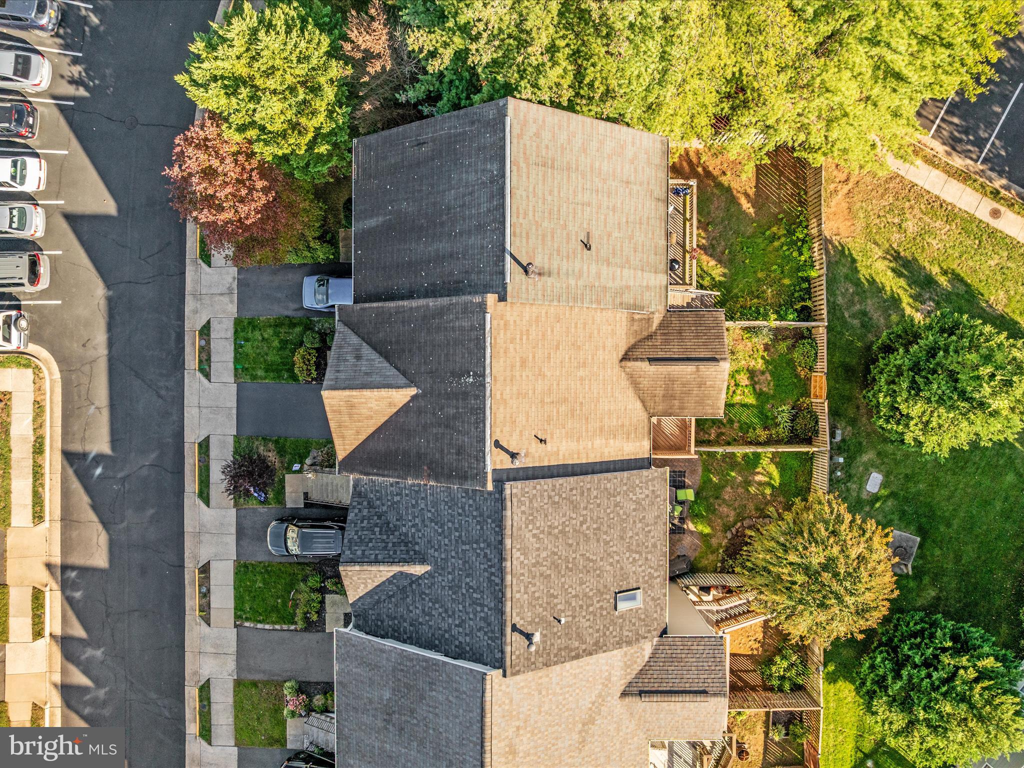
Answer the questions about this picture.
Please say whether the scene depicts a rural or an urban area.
urban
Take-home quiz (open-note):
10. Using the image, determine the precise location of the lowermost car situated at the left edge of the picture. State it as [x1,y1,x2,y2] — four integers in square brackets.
[0,313,30,348]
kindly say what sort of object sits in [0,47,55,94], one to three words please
car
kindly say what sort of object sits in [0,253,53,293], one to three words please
vehicle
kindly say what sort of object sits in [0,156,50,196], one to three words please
car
